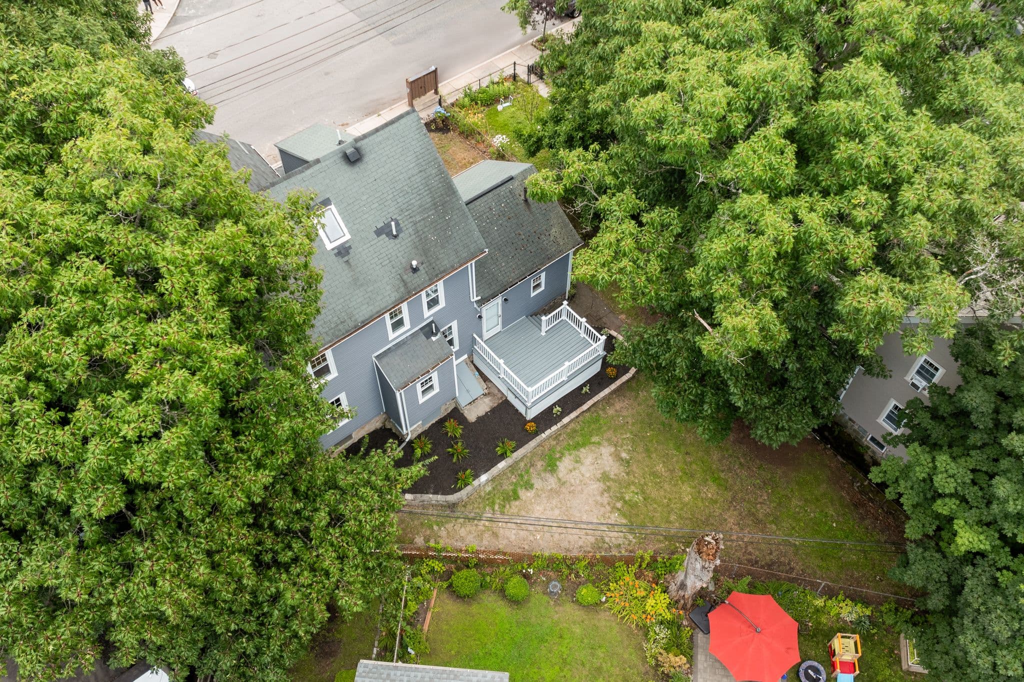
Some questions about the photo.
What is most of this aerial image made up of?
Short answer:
trees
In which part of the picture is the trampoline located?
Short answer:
bottom right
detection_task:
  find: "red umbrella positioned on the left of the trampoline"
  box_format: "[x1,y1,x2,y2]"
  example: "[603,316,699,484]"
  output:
[688,591,802,682]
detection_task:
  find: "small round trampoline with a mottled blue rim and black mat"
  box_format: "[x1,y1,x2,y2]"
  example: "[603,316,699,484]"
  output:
[799,662,828,682]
